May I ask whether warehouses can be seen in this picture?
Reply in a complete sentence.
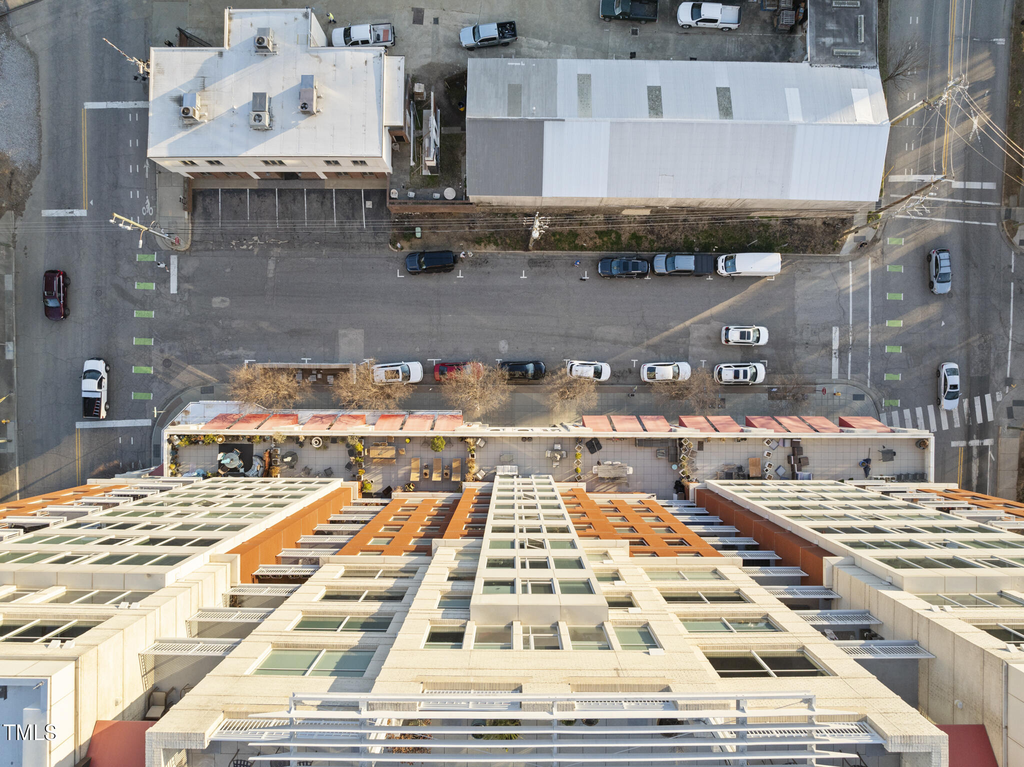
Yes, there's a warehouse here.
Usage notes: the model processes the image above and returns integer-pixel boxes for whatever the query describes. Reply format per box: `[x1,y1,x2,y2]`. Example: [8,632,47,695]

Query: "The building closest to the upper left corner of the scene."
[146,5,413,180]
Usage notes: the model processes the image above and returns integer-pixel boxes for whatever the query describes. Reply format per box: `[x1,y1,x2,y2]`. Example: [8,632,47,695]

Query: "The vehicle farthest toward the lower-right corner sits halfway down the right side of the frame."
[933,361,960,410]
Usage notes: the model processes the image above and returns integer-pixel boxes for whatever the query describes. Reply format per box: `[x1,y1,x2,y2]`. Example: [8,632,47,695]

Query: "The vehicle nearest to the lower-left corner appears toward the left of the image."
[81,357,111,419]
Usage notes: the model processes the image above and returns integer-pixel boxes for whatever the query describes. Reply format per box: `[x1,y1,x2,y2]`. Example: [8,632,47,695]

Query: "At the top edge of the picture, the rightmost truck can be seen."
[676,1,742,32]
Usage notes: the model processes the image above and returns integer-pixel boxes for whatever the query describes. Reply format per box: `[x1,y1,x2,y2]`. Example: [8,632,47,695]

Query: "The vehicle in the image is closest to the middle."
[500,360,546,382]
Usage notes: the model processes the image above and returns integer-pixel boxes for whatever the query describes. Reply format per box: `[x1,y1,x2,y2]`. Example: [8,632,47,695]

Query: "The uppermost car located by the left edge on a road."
[42,269,72,321]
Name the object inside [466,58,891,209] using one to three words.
warehouse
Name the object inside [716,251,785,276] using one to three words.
vehicle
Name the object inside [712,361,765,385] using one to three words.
car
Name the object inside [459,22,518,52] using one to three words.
truck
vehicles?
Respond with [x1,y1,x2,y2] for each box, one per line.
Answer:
[926,249,953,295]
[716,251,785,276]
[597,255,650,280]
[373,361,424,384]
[42,269,72,321]
[599,0,658,23]
[433,360,484,383]
[333,22,395,50]
[459,22,518,52]
[676,1,742,32]
[81,357,111,419]
[719,324,767,346]
[500,360,546,382]
[933,361,960,410]
[712,361,765,385]
[407,250,458,273]
[566,361,611,381]
[652,253,714,277]
[640,361,690,382]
